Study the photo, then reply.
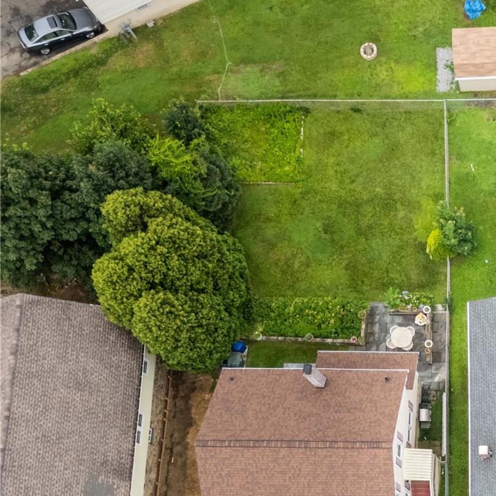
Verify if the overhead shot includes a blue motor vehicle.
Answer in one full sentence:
No, the picture doesn't show any blue motor vehicle.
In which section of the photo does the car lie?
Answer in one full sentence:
Look in the top left portion of the view to spot the car.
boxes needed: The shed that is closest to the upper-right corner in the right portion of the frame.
[452,26,496,95]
